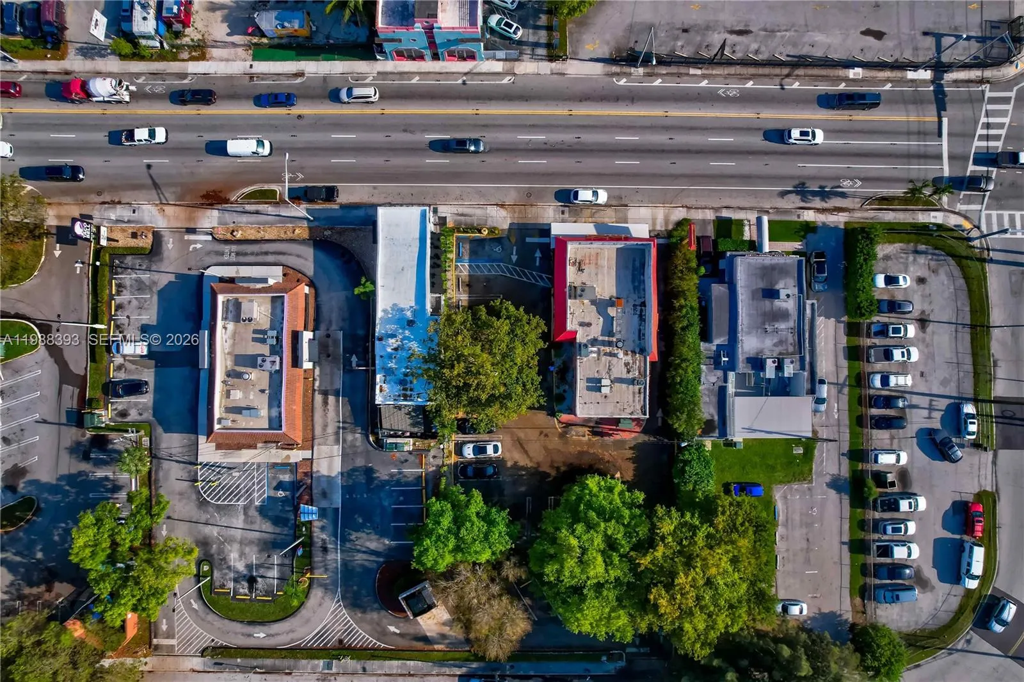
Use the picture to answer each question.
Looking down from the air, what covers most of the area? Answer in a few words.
paved ground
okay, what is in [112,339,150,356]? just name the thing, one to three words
car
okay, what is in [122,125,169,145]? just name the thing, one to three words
vehicle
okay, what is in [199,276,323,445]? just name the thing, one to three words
building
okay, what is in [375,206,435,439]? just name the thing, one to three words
building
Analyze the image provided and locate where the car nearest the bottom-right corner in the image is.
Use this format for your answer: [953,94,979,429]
[985,595,1018,633]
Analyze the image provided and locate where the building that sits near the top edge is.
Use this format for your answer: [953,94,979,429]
[377,0,487,64]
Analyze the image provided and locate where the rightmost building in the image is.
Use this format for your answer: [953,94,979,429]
[694,246,816,439]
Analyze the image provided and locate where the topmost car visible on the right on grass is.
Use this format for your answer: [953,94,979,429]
[731,481,764,498]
